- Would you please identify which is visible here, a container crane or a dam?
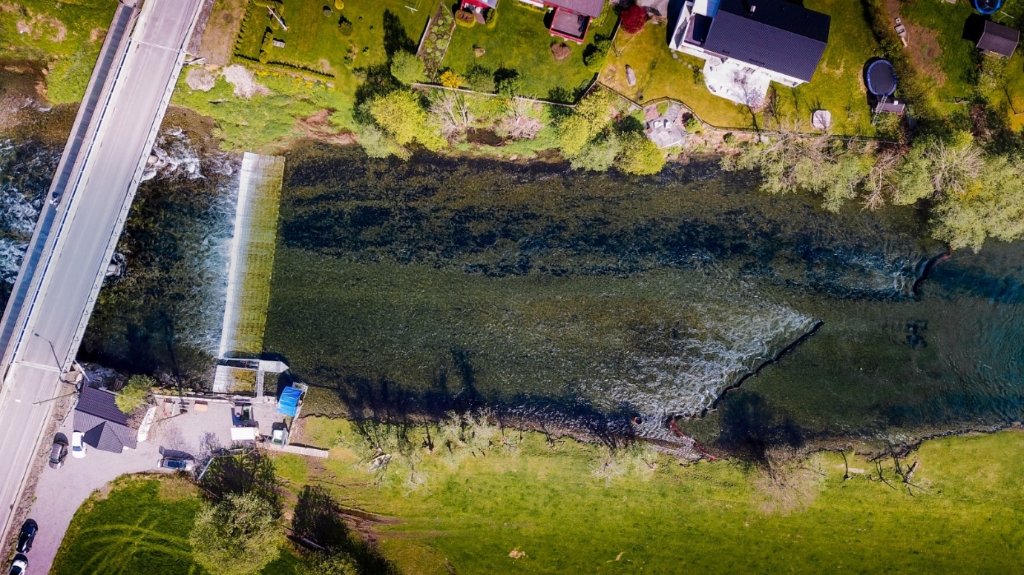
dam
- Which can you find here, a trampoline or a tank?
trampoline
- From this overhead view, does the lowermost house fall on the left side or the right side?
left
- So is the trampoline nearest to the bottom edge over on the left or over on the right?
right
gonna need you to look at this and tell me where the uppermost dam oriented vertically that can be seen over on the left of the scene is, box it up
[217,152,289,359]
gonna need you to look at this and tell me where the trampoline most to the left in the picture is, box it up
[865,59,896,96]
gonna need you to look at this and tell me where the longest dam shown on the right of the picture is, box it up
[667,318,825,424]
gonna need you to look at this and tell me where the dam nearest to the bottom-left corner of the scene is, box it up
[212,364,261,395]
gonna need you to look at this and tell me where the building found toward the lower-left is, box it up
[73,386,148,454]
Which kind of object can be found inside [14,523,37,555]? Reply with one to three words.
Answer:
car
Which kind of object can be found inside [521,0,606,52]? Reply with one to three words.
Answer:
house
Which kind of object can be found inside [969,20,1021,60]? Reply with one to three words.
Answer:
shed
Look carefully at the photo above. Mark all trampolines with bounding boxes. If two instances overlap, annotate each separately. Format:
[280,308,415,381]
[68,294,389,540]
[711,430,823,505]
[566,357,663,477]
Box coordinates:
[865,59,896,96]
[969,0,1002,17]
